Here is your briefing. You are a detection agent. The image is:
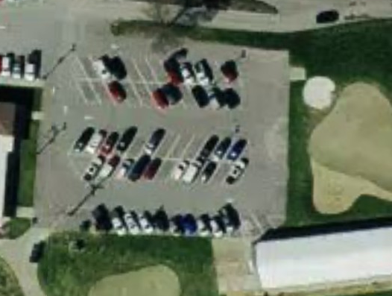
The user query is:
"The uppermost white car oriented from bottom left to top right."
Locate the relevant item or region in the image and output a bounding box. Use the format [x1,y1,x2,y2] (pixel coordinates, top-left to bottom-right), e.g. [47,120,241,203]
[86,132,105,154]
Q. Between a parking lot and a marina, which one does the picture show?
parking lot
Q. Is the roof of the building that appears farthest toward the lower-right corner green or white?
white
